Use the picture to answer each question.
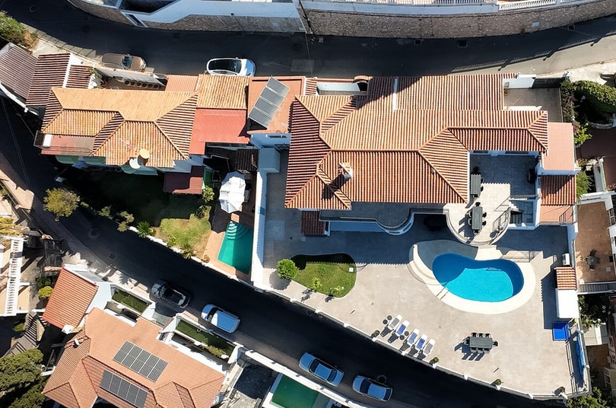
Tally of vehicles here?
6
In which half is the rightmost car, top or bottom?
bottom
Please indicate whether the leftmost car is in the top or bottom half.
top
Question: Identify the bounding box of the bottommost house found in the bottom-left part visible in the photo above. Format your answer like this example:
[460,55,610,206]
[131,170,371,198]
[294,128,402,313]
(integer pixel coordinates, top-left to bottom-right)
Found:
[41,313,230,408]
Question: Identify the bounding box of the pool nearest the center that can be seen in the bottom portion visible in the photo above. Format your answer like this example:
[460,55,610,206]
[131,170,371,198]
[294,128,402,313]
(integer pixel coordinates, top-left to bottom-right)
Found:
[218,221,254,274]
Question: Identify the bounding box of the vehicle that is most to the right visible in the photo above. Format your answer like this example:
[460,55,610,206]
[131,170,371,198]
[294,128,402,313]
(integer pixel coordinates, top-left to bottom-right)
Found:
[350,373,394,403]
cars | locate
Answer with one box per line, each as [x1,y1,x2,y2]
[149,278,194,314]
[99,50,148,73]
[350,373,394,403]
[206,54,256,76]
[298,351,346,387]
[200,302,243,337]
